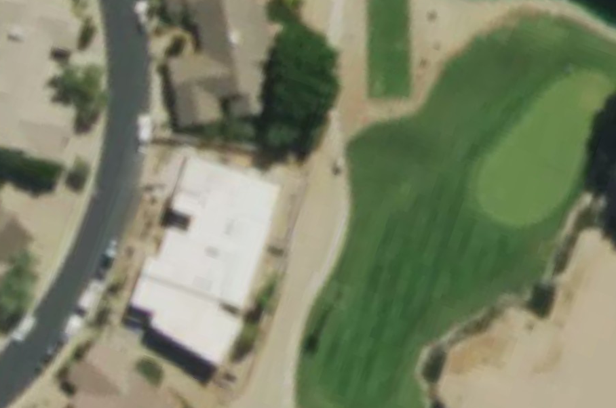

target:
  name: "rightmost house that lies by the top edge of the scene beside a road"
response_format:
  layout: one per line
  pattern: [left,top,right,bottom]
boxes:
[163,0,266,127]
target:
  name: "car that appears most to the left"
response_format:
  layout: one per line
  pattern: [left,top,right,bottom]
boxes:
[15,317,33,340]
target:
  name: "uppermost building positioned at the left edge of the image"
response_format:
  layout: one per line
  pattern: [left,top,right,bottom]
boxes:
[0,0,84,158]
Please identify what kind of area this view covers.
residential area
